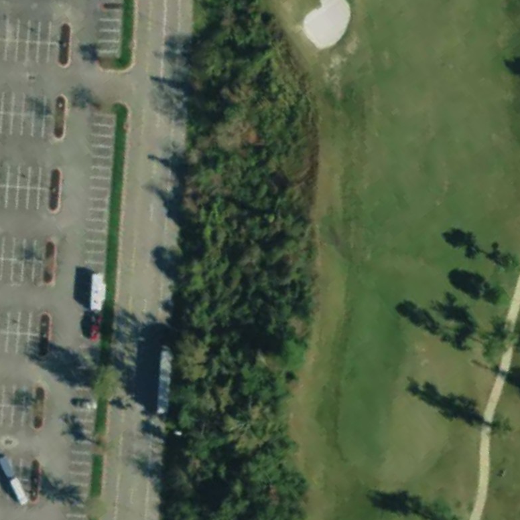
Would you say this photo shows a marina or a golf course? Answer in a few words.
golf course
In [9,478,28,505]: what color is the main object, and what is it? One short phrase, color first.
white camper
